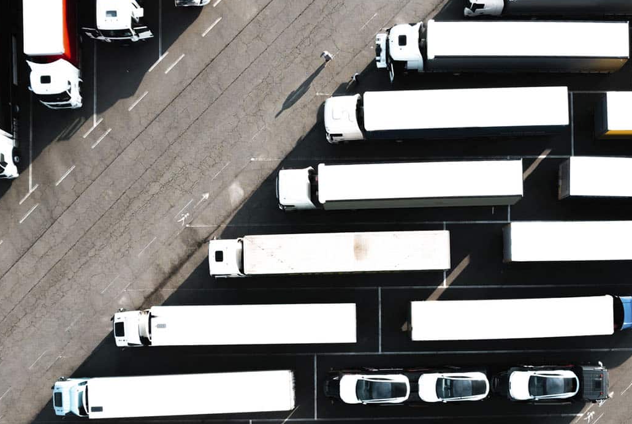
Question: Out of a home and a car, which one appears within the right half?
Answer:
car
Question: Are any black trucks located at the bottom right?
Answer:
Yes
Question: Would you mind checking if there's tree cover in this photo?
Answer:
No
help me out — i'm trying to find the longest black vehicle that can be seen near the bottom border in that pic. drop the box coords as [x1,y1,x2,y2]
[329,357,611,406]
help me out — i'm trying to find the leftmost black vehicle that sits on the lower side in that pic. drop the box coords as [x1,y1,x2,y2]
[324,375,347,402]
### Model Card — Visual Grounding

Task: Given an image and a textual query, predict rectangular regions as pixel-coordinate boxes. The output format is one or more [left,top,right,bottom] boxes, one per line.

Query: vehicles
[24,0,86,109]
[116,303,359,350]
[503,221,632,264]
[0,0,22,180]
[418,371,487,403]
[408,295,632,340]
[86,0,159,46]
[340,372,409,404]
[329,357,611,406]
[458,0,632,20]
[324,86,568,145]
[55,369,300,422]
[378,18,630,87]
[324,375,347,402]
[279,159,523,214]
[557,156,632,206]
[508,368,577,400]
[207,231,452,283]
[593,91,632,144]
